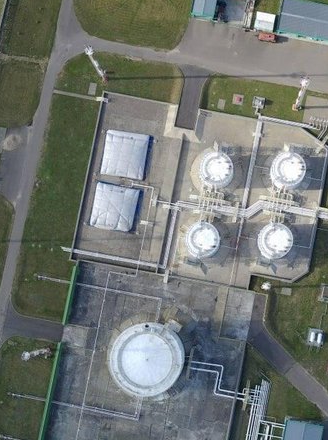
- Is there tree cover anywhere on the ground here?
No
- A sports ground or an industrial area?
industrial area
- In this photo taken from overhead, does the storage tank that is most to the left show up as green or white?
white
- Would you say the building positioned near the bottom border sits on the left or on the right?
right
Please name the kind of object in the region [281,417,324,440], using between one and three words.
building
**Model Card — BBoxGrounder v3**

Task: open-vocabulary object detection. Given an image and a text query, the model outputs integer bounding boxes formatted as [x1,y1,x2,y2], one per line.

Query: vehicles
[244,0,256,27]
[218,1,227,17]
[259,31,276,42]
